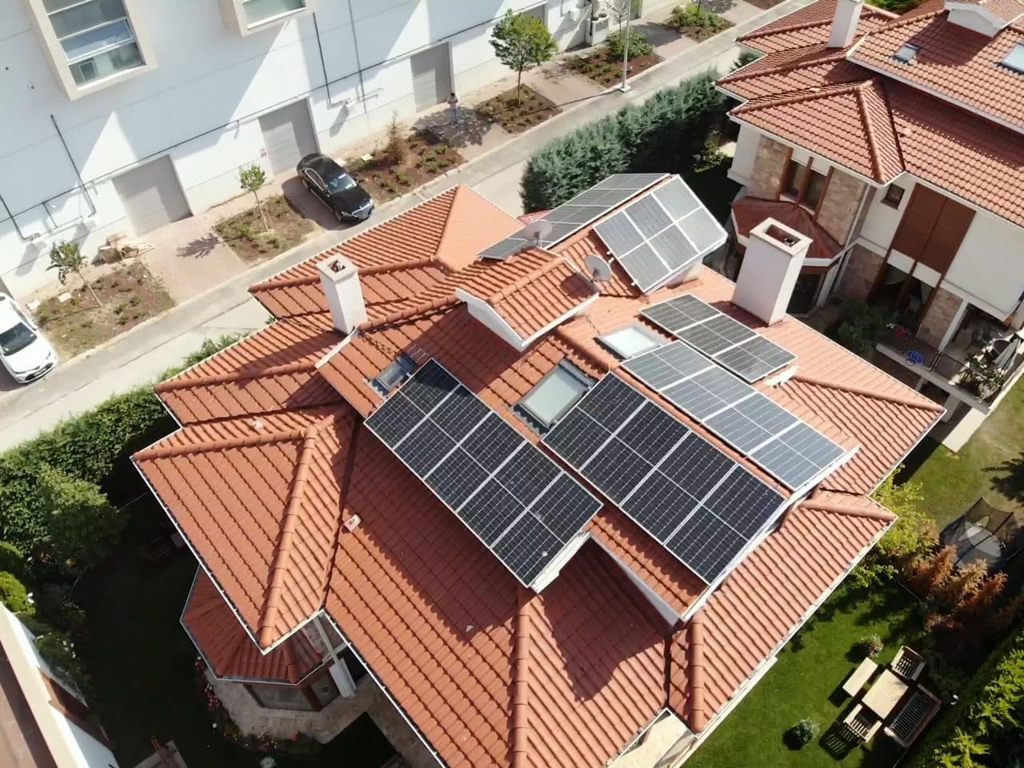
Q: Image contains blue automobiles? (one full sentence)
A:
No, no blue automobile is visible in the view.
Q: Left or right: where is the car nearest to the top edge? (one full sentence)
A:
The car nearest to the top edge is on the left side of the image.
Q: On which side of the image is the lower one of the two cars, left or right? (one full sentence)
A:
It is on the left.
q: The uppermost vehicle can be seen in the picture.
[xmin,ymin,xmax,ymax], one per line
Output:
[291,150,375,223]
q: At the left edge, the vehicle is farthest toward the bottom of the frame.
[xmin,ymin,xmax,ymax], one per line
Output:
[0,298,56,383]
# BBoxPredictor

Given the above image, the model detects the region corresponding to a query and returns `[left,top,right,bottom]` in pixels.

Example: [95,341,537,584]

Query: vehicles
[0,298,56,383]
[291,150,375,223]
